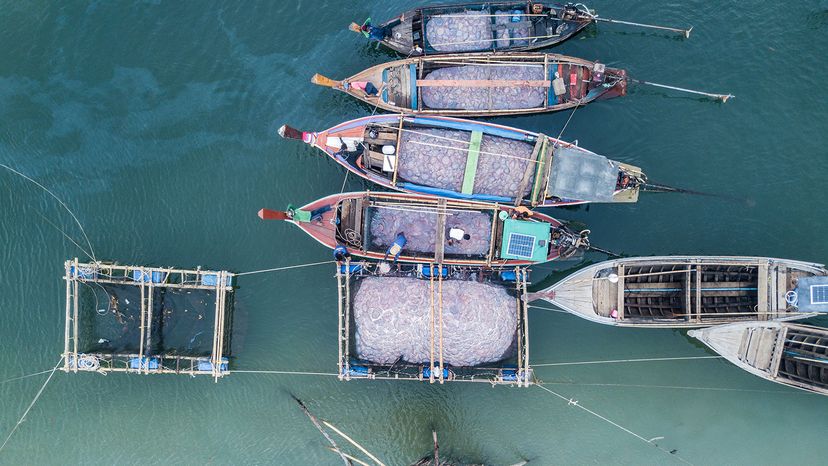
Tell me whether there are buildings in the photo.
No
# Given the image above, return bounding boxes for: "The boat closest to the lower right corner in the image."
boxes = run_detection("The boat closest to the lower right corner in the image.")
[677,320,828,396]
